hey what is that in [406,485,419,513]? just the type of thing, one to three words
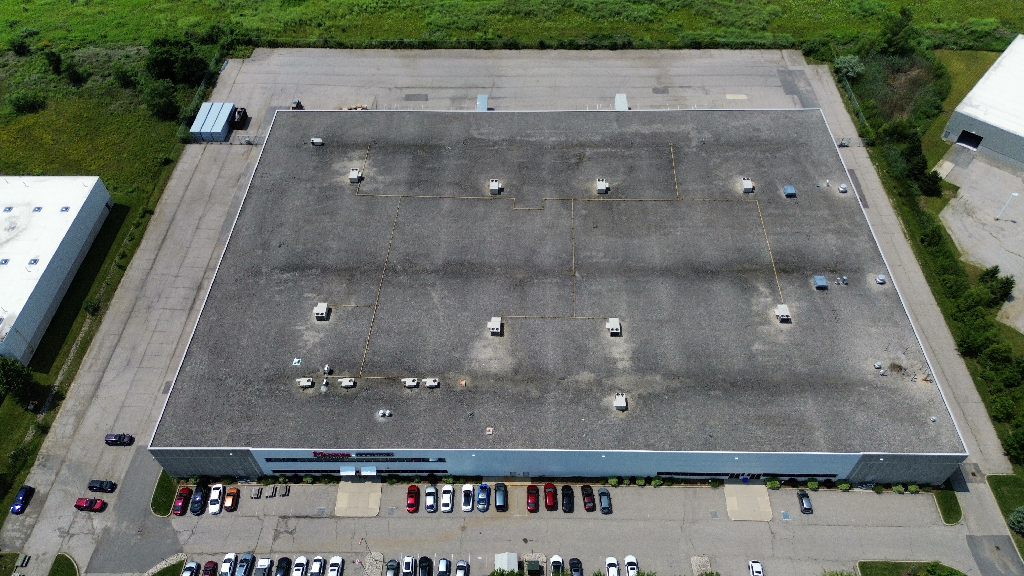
vehicle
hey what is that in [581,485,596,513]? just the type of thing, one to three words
car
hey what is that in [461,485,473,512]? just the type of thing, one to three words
vehicle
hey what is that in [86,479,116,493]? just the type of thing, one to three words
car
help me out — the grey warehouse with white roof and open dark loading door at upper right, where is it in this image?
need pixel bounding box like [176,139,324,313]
[941,36,1024,172]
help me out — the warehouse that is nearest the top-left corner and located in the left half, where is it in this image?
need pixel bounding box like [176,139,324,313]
[0,176,116,361]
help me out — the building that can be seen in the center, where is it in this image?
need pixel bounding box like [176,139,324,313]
[148,108,970,490]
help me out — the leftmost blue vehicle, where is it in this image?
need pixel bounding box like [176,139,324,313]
[11,487,32,512]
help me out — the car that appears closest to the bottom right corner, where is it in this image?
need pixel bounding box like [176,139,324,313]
[796,490,813,515]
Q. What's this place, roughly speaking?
industrial area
